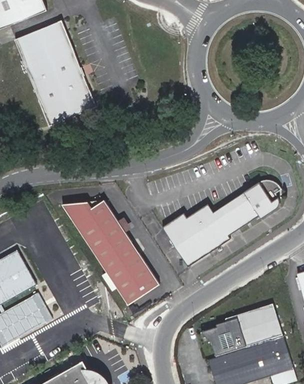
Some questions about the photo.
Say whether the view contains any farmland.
No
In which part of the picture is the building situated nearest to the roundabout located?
right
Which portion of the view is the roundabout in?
top right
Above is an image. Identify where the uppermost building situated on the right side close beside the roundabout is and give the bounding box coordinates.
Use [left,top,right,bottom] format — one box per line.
[162,180,282,266]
